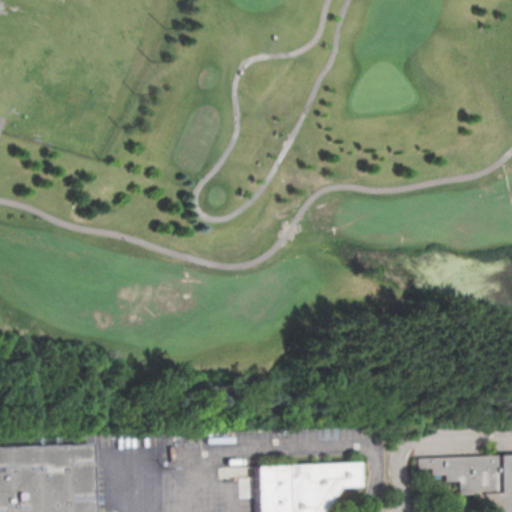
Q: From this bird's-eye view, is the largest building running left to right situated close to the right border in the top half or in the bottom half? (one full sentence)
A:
Seen from above, the largest building running left to right situated close to the right border lies in the bottom half of the view.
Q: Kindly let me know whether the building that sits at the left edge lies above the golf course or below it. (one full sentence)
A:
The building that sits at the left edge appears below the golf course in the picture.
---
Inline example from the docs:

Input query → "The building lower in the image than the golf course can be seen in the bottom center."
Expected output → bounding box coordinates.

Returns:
[253,462,366,512]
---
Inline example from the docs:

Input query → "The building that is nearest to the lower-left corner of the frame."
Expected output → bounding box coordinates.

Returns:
[0,444,96,512]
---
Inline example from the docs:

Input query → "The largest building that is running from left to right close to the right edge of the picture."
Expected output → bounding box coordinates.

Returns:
[414,455,500,494]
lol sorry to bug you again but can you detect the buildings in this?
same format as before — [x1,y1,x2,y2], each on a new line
[253,462,366,512]
[0,444,96,512]
[414,455,500,494]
